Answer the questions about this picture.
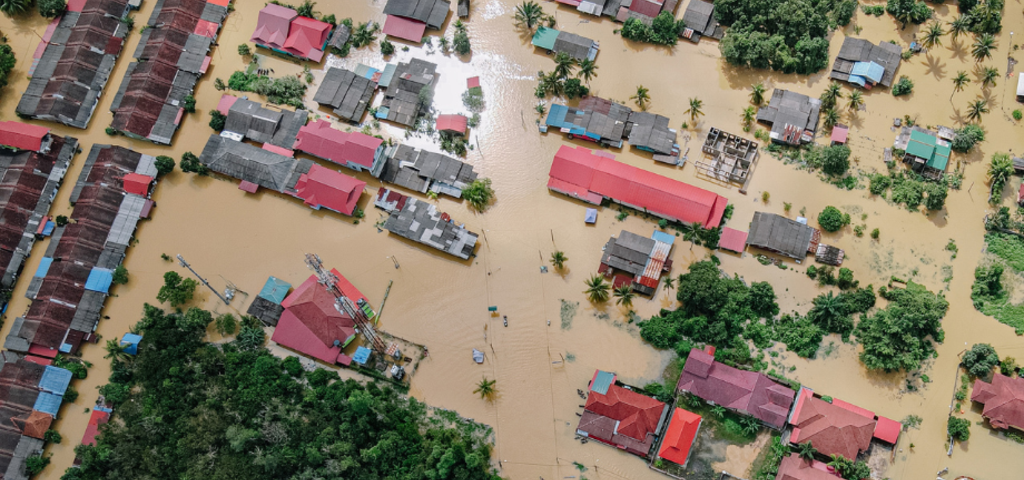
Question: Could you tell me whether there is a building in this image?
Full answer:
Yes, the frame does contain a building.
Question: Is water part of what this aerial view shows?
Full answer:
Yes, water shows up in the scene.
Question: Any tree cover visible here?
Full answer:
Yes, tree cover can be seen from above here.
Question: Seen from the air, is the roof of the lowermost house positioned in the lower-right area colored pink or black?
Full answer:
From above, the roof of the lowermost house positioned in the lower-right area appears pink.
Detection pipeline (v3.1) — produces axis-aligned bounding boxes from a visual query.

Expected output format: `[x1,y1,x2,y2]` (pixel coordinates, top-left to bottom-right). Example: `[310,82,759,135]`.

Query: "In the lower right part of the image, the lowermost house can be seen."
[777,452,846,480]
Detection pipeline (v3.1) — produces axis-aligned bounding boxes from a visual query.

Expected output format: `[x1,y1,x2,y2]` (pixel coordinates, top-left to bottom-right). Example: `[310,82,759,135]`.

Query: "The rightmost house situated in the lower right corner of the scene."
[969,373,1024,437]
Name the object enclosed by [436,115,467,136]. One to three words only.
shed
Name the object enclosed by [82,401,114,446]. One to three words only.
house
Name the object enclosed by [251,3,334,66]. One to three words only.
house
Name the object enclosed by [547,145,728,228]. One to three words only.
building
